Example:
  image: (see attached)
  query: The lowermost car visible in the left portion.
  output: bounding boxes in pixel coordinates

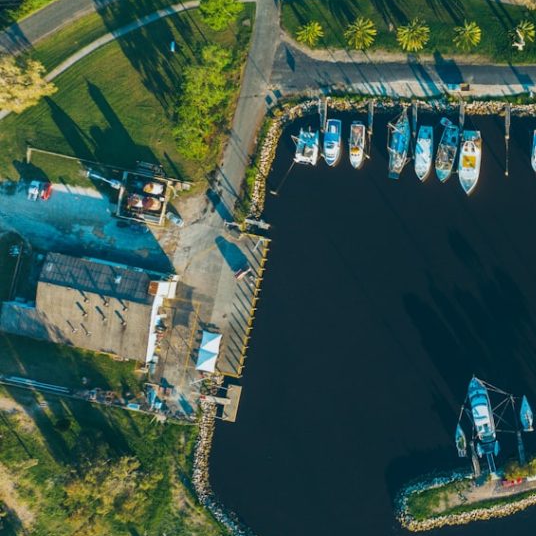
[167,210,182,228]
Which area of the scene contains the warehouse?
left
